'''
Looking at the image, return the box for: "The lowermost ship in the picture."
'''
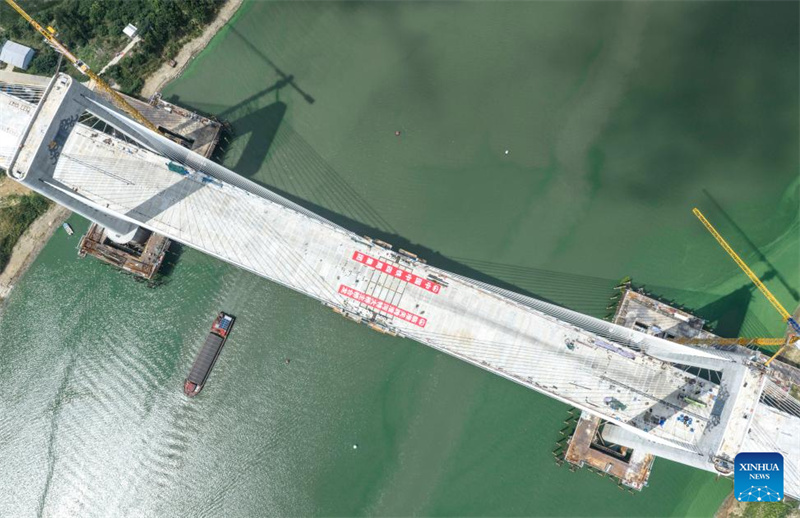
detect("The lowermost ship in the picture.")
[181,309,236,397]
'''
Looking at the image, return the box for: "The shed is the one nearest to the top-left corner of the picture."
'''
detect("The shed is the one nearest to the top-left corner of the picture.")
[0,38,36,70]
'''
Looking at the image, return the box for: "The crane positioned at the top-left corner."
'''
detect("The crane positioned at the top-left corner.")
[5,0,170,138]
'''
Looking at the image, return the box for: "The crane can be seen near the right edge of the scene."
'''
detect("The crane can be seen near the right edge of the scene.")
[664,209,800,362]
